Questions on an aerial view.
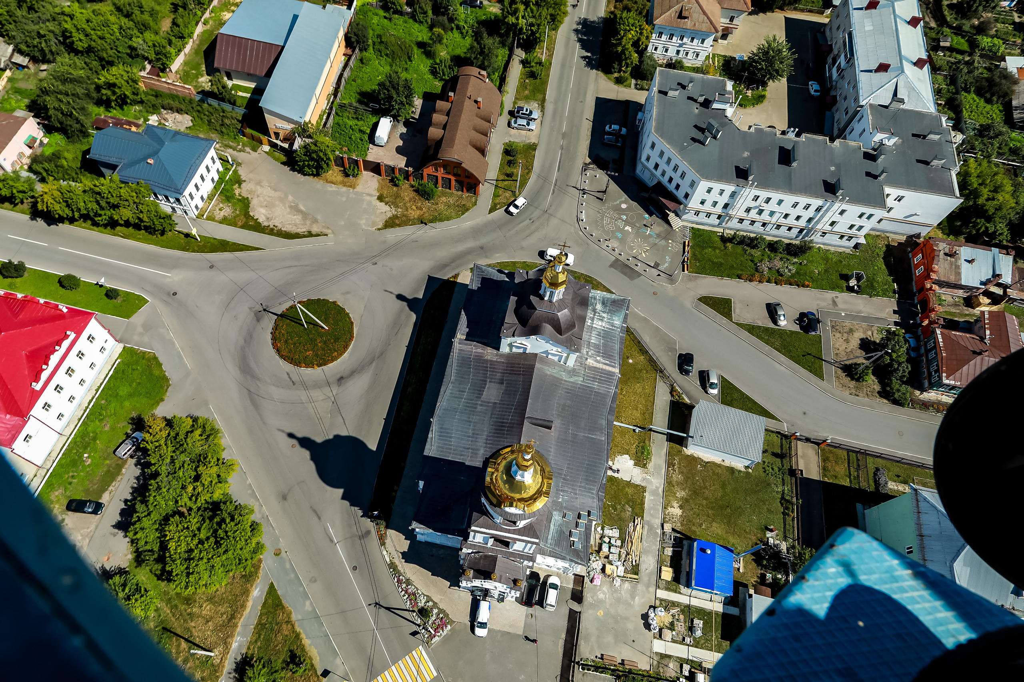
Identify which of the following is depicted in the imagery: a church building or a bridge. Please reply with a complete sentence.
It is a church building that can be seen here.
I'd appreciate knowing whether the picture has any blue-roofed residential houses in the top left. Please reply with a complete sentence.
Yes, looking in the top left, one can make out a blue-roofed residential house.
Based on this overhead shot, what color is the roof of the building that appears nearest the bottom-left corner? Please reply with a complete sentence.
From above, the roof of the building that appears nearest the bottom-left corner looks red.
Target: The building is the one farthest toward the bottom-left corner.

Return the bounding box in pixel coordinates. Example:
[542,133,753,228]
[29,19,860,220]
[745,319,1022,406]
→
[0,289,121,494]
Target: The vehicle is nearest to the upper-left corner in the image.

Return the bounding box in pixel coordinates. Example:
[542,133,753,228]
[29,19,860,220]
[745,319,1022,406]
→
[377,121,392,141]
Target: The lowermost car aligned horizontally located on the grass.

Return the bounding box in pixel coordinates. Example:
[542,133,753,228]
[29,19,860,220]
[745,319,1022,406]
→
[64,500,108,518]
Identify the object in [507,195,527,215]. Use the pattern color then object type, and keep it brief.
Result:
white car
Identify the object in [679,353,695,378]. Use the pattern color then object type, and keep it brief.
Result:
black car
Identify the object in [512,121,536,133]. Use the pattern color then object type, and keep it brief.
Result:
gray vehicle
